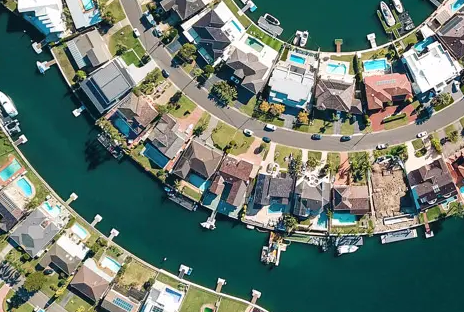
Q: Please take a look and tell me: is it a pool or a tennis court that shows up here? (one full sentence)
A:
I can see a pool in this picture.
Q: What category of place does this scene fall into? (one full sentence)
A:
The area seen from above is a residential area.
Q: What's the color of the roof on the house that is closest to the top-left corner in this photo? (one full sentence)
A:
From above, the roof of the house that is closest to the top-left corner looks white.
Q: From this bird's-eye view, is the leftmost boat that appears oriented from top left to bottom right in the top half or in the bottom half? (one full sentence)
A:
The leftmost boat that appears oriented from top left to bottom right is in the top half of the image.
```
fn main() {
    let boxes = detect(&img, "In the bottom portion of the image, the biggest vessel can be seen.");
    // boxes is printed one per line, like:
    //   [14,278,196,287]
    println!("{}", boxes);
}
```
[256,228,280,268]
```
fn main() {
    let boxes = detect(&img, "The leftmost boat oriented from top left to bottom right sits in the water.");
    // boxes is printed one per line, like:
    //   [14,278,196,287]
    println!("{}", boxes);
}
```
[0,93,20,119]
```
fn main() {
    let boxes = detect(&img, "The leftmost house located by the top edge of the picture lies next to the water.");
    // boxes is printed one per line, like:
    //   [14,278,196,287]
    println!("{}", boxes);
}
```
[17,0,70,33]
